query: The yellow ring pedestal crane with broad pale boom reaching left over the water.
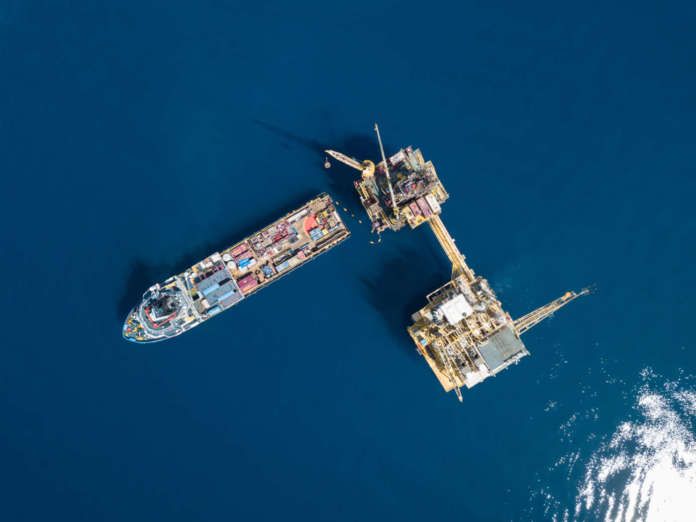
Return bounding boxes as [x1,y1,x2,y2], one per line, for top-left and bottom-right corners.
[324,150,377,181]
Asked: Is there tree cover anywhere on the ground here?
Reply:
No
